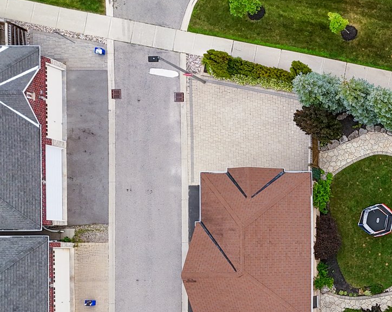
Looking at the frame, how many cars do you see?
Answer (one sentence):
Not a single car can be seen.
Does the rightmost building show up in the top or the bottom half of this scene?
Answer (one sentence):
Seen from above, the rightmost building lies in the bottom half of the view.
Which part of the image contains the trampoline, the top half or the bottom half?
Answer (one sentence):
You can find the trampoline in the bottom half.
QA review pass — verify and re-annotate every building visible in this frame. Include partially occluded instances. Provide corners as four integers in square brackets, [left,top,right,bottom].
[0,235,82,312]
[0,43,85,233]
[180,167,322,312]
